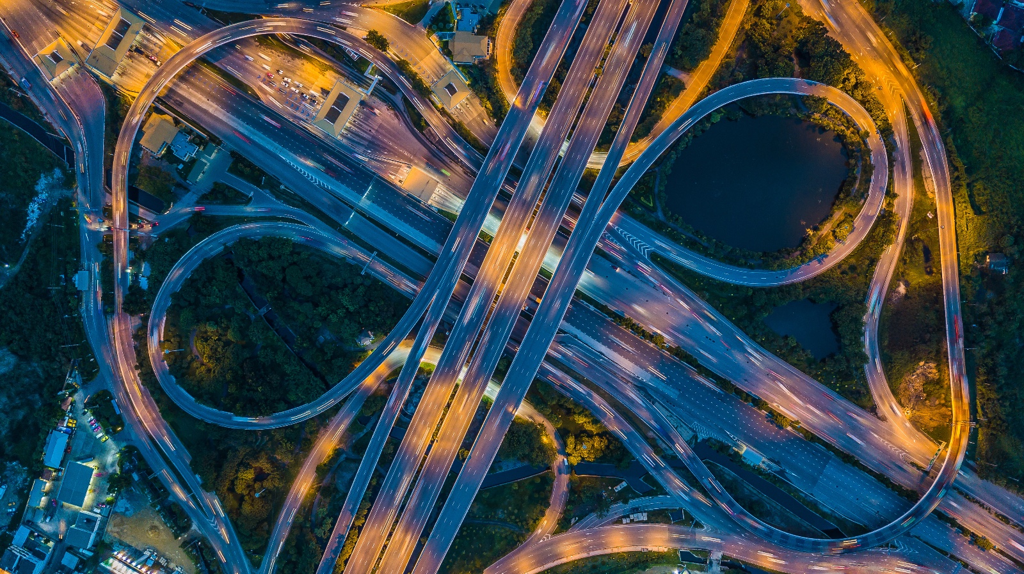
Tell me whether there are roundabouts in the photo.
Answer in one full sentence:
No, the photo shows no roundabout.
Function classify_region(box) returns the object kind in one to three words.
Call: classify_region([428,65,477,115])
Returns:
toll station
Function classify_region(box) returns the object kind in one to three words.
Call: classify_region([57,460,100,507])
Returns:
shed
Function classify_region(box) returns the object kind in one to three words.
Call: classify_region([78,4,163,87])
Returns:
toll station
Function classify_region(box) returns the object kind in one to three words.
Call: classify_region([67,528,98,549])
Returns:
building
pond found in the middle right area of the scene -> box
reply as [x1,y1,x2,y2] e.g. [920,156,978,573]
[767,299,839,359]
